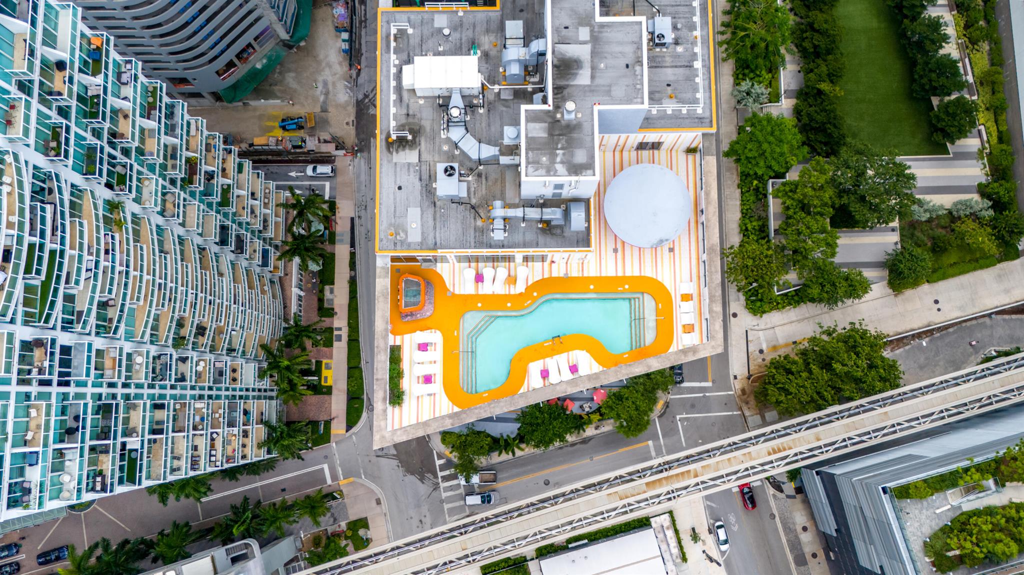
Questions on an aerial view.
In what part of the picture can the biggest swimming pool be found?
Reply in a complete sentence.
The biggest swimming pool appears toward the center of the photo.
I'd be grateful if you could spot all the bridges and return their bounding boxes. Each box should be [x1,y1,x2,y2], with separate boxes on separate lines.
[276,351,1024,575]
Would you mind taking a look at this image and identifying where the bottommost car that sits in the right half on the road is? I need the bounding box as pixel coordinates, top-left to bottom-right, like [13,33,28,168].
[711,518,730,553]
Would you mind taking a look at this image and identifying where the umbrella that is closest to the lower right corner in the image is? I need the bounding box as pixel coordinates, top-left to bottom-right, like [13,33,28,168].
[592,389,607,404]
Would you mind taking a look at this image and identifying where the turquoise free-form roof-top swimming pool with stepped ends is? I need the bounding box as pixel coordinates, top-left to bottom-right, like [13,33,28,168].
[459,292,657,395]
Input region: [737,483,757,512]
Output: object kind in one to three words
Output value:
car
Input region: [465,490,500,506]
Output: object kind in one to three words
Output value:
car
